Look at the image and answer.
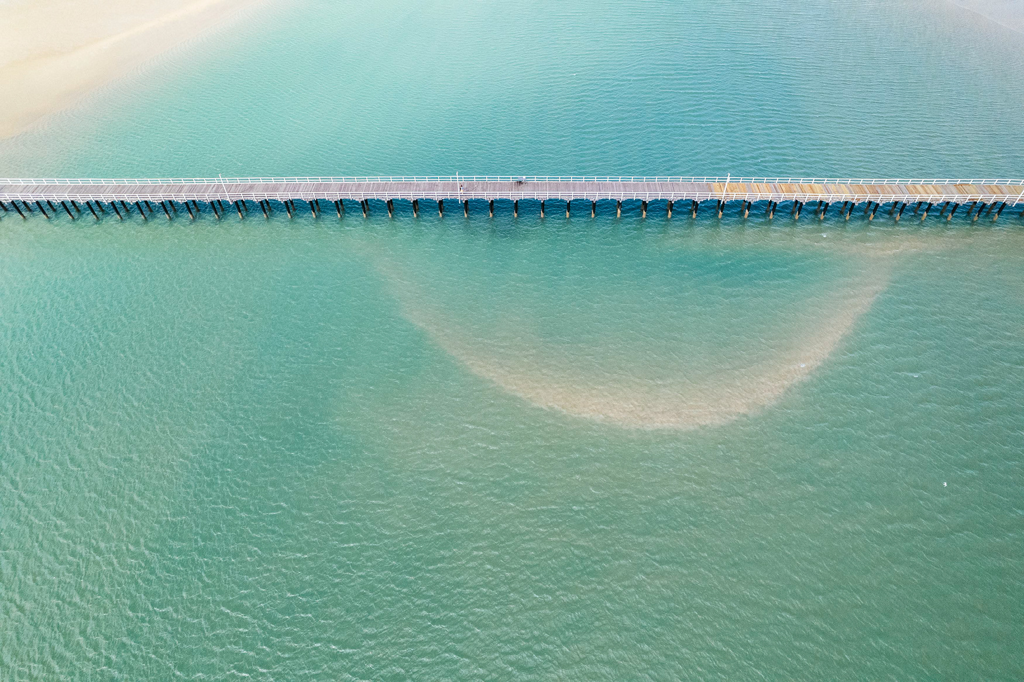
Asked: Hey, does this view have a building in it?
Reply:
No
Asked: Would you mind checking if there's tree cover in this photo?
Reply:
No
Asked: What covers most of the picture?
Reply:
water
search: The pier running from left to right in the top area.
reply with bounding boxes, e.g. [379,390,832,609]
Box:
[0,176,1024,220]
